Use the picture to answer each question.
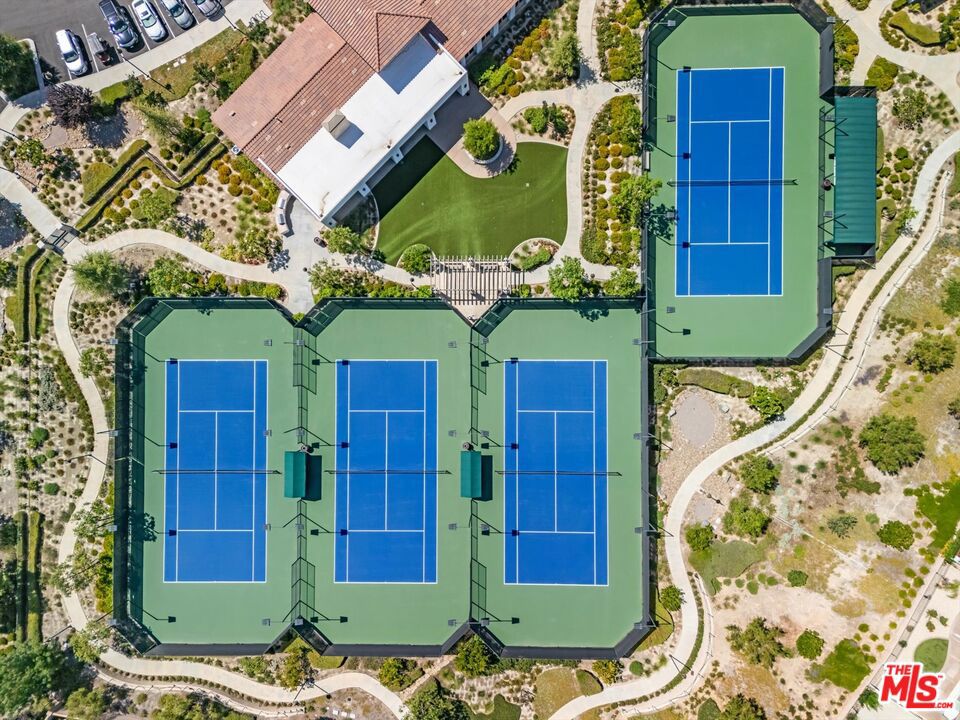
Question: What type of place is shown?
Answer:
sports ground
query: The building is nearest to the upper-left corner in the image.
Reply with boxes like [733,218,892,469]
[210,0,520,231]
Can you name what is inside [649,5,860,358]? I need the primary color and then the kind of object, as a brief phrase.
green tennis court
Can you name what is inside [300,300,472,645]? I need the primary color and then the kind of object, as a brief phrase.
green tennis court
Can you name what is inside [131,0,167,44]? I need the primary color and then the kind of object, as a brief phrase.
white car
